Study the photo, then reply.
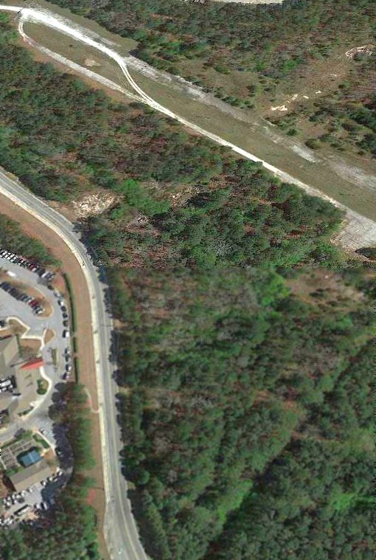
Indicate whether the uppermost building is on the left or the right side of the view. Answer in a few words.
left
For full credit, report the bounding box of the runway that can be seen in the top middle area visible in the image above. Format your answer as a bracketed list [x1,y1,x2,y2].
[130,55,321,162]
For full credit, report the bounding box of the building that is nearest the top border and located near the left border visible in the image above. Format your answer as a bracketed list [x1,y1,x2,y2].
[0,334,43,418]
